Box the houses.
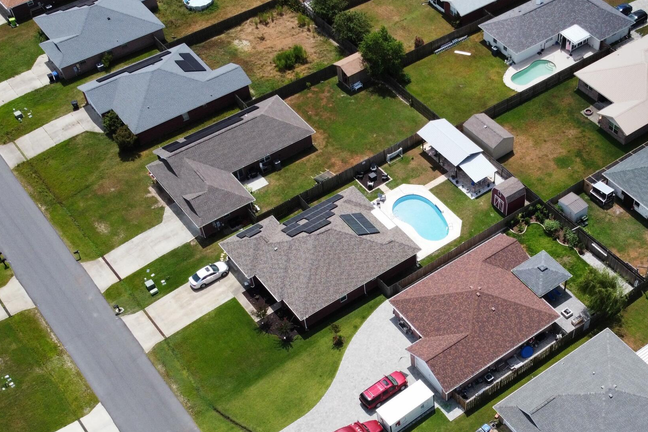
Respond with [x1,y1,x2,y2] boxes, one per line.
[603,146,648,222]
[147,94,316,239]
[33,0,165,82]
[218,185,419,330]
[78,42,252,147]
[387,232,561,402]
[574,34,648,147]
[493,327,648,432]
[428,0,519,29]
[478,0,635,66]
